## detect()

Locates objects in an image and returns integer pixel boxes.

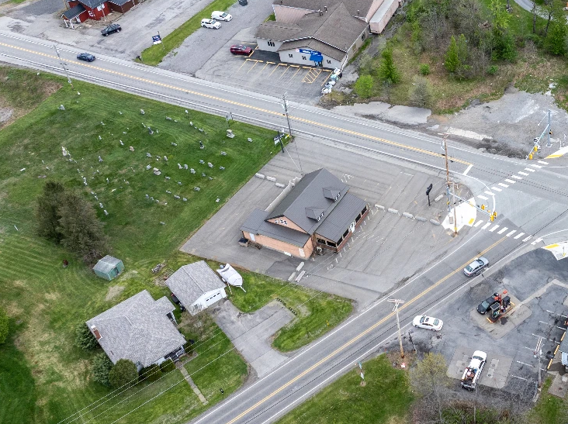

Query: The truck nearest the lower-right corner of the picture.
[461,349,486,386]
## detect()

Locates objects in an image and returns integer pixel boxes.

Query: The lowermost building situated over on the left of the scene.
[86,290,194,383]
